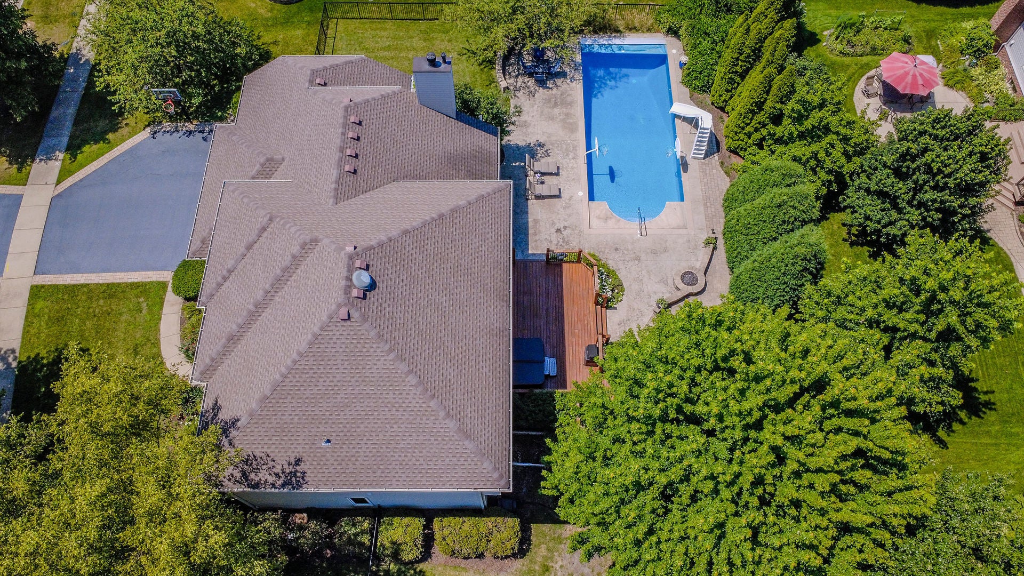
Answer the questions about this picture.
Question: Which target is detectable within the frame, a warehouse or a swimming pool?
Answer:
swimming pool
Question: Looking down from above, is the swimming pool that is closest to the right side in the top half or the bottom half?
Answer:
top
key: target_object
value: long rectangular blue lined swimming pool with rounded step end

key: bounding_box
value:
[581,43,683,221]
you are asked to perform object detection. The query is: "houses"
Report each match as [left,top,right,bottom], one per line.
[969,0,1024,103]
[185,49,514,507]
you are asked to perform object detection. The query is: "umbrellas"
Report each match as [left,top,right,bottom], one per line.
[883,52,939,100]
